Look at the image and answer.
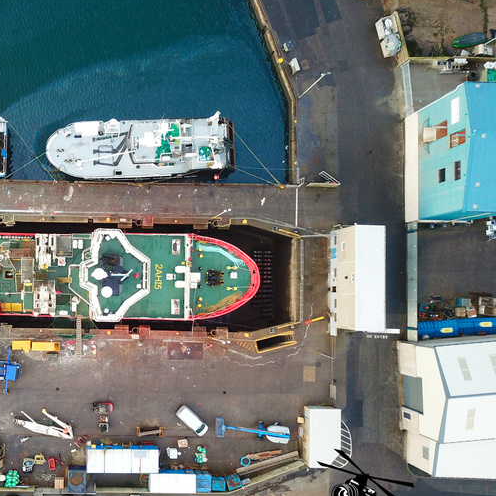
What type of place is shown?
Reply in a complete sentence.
What you see here is a port.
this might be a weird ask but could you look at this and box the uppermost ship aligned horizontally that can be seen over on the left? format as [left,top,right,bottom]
[47,110,235,181]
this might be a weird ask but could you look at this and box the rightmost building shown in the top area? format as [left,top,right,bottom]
[405,79,496,220]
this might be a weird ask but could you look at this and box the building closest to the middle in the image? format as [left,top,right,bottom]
[328,220,387,337]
